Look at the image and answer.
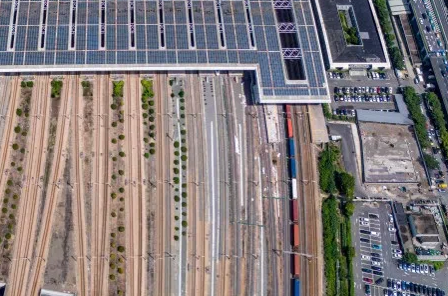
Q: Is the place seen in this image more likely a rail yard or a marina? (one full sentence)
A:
This image shows a rail yard.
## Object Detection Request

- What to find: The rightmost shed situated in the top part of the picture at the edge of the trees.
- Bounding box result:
[356,94,414,126]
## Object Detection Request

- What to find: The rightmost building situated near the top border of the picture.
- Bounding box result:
[311,0,392,73]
